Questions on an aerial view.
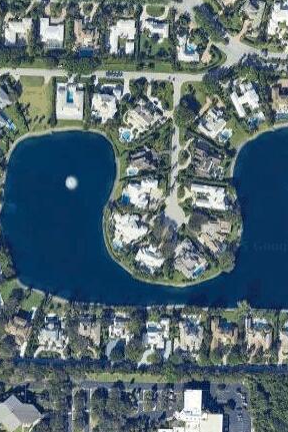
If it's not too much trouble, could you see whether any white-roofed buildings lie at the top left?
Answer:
Yes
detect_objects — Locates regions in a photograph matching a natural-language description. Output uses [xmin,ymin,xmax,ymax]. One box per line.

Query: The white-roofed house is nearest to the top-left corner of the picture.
[5,18,31,46]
